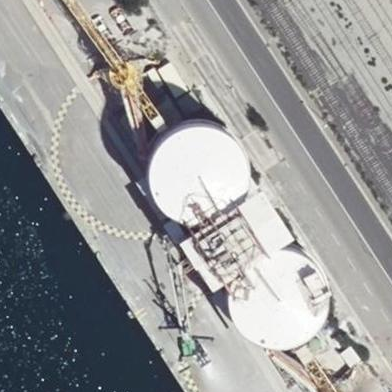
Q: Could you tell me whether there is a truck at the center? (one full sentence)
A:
No, there's no truck to be seen at the center.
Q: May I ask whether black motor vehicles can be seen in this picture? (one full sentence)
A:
No, the picture doesn't show any black motor vehicle.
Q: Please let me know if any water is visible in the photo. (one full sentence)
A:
Yes, some water is visible.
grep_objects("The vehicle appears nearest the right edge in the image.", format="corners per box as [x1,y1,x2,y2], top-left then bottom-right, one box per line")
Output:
[108,4,135,35]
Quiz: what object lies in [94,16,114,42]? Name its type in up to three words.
truck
